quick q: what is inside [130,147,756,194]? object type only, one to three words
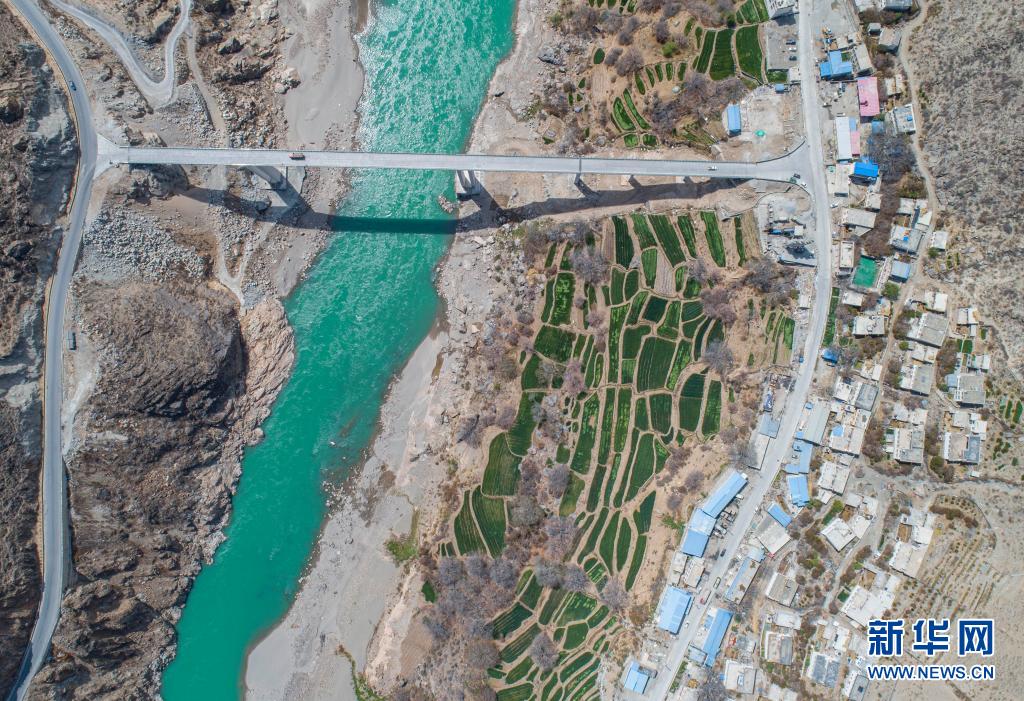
bridge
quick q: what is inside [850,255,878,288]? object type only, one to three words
sports court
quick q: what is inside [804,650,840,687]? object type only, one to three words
house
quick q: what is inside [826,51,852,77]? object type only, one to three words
building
